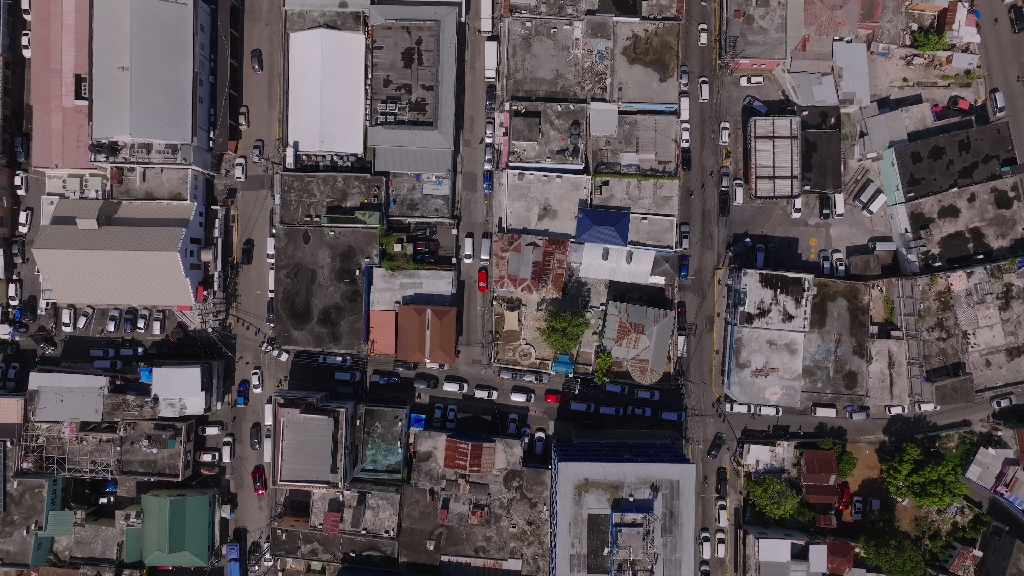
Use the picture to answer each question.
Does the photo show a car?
Yes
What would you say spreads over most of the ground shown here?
buildings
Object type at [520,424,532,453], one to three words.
vehicle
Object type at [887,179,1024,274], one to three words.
building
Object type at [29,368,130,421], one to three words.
building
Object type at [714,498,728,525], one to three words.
car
